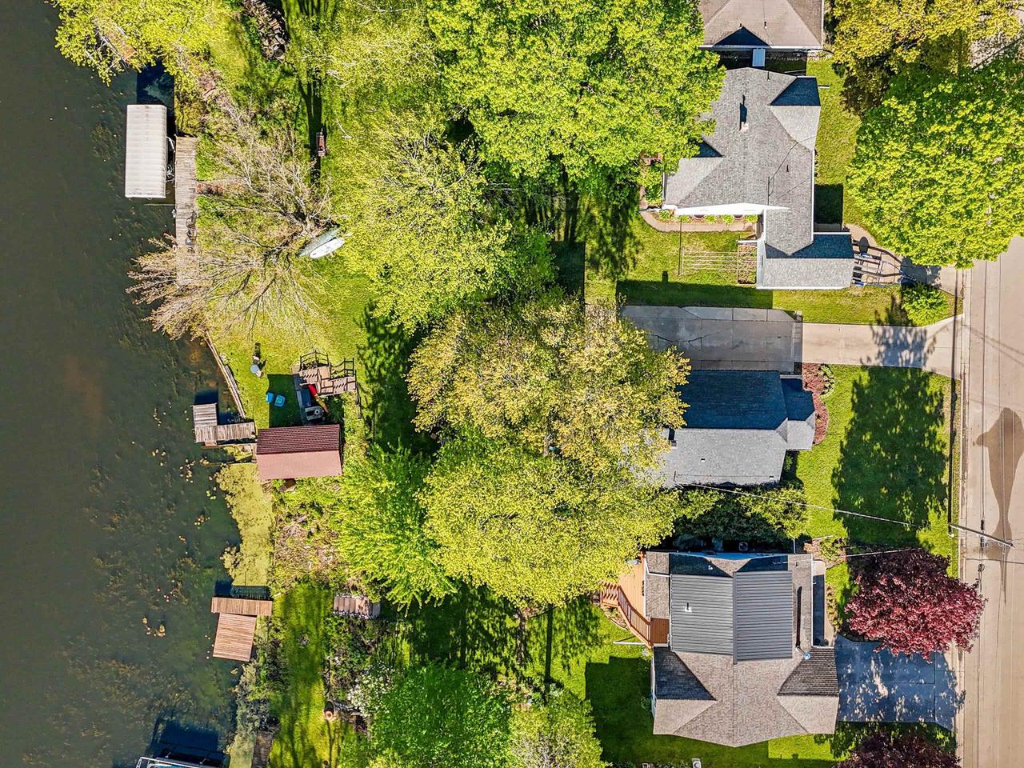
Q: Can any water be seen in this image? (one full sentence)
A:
Yes, water shows up in the scene.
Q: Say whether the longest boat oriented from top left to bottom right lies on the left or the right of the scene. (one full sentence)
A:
The longest boat oriented from top left to bottom right sits on the left side.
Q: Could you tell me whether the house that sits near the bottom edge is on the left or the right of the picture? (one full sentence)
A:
The house that sits near the bottom edge sits on the right side.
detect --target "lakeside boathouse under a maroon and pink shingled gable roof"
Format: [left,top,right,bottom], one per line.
[257,425,342,479]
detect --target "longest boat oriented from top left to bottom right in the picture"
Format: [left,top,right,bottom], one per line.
[308,384,328,414]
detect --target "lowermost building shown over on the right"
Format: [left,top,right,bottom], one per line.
[614,551,841,747]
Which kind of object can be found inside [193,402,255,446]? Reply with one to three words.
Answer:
pier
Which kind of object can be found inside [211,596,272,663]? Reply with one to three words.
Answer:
pier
